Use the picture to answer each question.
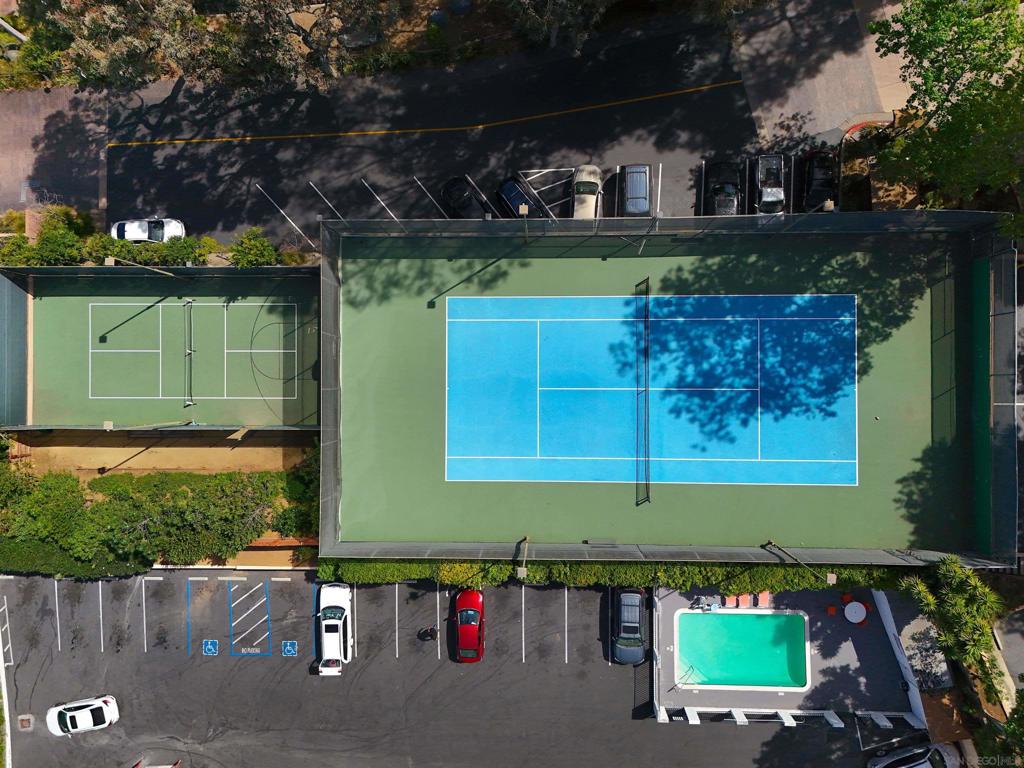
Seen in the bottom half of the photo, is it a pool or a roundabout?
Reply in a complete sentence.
There is a pool in the bottom half of the photo.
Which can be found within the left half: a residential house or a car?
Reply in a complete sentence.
It is a car that can be seen within the left half.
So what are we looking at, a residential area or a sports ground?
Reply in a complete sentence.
The picture captures a sports ground.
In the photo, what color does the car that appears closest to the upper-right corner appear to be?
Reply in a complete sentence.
In this view, the car that appears closest to the upper-right corner is black.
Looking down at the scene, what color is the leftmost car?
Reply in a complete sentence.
The leftmost car looks white in the image.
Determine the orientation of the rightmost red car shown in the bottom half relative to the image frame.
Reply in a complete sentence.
In this picture, the rightmost red car shown in the bottom half is oriented from top to bottom.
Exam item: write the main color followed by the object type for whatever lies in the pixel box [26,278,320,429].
green sports court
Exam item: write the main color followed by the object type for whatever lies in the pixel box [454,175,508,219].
black car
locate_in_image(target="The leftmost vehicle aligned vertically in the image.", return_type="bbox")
[314,583,352,673]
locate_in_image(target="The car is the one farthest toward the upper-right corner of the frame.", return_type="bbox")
[799,147,842,218]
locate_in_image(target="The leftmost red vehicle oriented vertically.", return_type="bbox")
[453,588,486,662]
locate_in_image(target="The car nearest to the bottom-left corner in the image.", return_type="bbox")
[49,693,122,738]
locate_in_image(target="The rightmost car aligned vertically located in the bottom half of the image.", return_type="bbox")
[612,586,648,665]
